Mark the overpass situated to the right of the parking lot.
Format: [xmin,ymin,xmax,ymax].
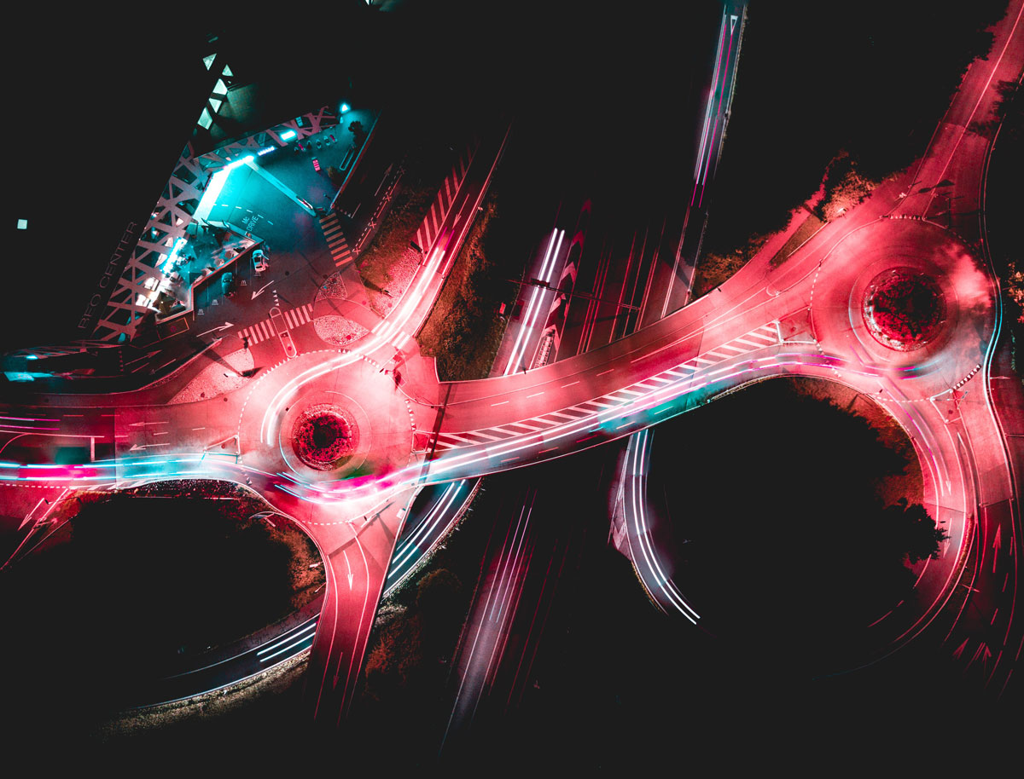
[431,274,735,485]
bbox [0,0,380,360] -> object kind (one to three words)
building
